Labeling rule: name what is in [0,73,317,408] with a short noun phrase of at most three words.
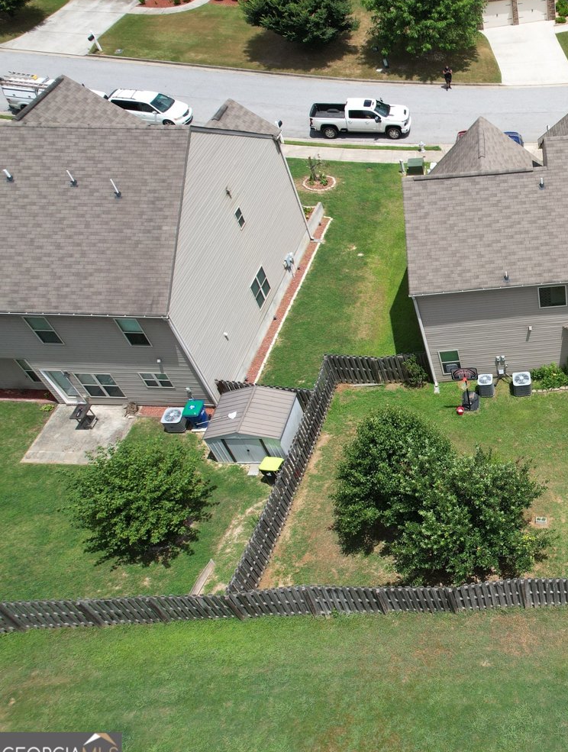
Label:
house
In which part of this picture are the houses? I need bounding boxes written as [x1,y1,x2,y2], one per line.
[402,113,568,390]
[0,73,317,408]
[474,0,568,30]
